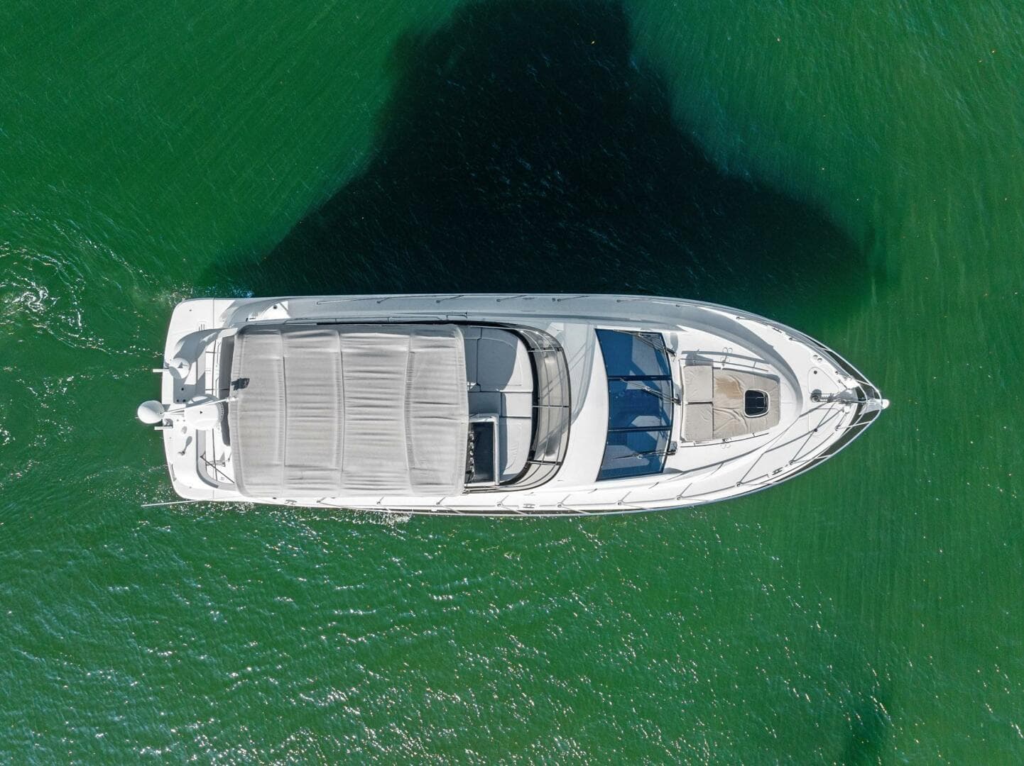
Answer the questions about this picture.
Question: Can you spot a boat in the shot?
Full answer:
Yes, the photo shows a boat.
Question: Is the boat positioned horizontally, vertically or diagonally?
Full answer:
The boat is laid out horizontally.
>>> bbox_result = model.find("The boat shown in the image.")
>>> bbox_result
[133,293,893,517]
